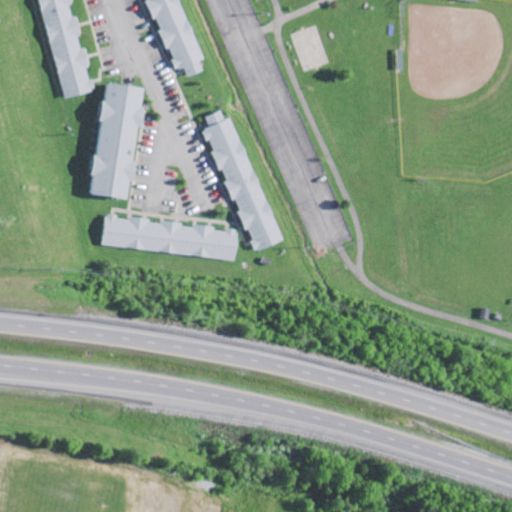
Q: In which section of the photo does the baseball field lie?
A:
top right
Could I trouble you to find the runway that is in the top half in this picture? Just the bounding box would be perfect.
[208,0,352,247]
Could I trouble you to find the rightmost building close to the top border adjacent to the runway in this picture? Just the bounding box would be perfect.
[144,0,208,80]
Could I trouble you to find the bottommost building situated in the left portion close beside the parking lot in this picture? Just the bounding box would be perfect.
[102,216,239,260]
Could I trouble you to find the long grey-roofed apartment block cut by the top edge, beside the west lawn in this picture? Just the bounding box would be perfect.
[38,0,95,99]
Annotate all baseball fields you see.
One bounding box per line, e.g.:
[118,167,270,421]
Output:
[398,0,512,182]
